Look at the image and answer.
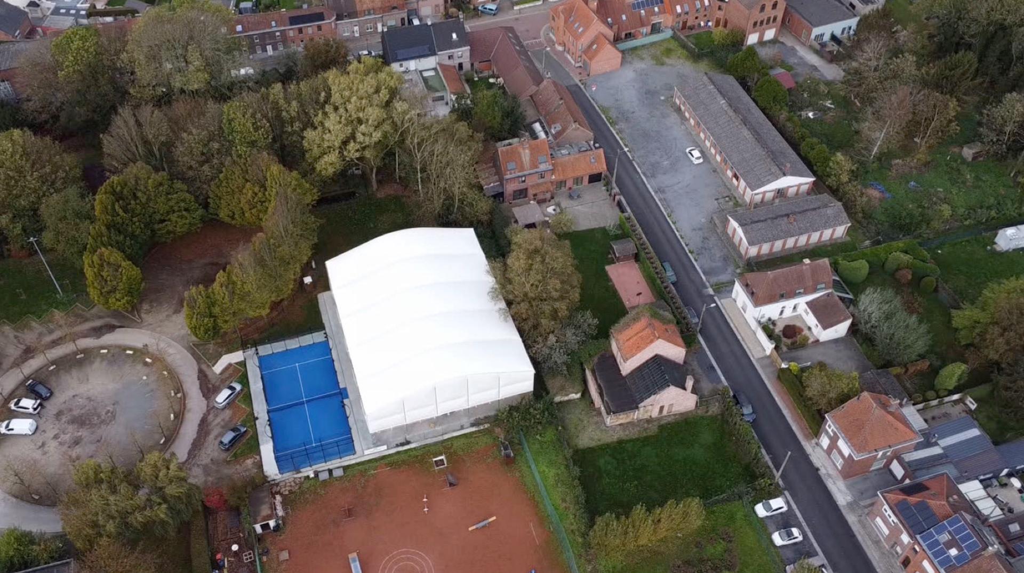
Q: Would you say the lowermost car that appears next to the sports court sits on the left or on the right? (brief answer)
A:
left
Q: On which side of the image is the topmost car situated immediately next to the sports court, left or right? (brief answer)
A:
left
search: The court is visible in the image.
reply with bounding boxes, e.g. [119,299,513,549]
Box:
[248,326,356,474]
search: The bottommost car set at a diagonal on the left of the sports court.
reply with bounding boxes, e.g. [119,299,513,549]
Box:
[212,421,248,450]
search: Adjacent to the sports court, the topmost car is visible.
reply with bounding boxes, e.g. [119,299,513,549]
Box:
[210,378,243,407]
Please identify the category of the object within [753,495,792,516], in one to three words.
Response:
car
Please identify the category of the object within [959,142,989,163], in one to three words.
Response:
shed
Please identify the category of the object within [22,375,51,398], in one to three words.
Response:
car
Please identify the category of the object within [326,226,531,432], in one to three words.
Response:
building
